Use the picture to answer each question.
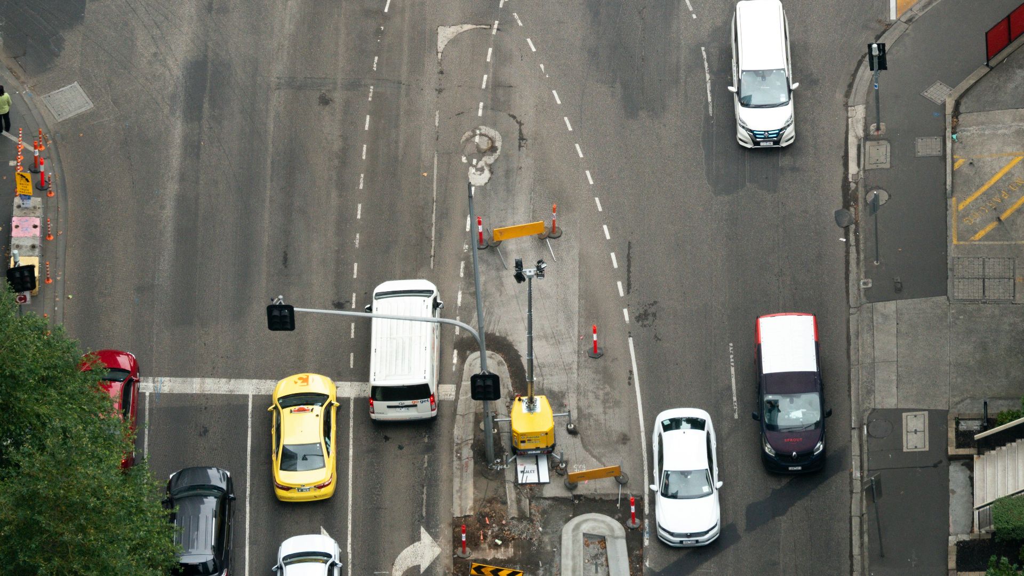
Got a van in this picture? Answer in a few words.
Yes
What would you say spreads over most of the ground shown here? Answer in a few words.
paved ground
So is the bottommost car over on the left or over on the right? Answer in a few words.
left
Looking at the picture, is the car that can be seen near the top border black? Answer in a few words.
No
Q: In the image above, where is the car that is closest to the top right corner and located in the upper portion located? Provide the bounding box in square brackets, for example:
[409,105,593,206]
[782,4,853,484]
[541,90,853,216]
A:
[727,1,801,148]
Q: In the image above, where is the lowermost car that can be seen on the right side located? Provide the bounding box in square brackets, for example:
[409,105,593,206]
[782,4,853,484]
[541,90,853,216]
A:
[645,408,727,547]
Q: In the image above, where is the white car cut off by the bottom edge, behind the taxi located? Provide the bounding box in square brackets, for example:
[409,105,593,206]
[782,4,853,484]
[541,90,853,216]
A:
[266,535,346,576]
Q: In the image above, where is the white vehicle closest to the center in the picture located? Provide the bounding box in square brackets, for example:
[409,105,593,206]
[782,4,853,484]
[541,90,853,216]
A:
[362,279,451,420]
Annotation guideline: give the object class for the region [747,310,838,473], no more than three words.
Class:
van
